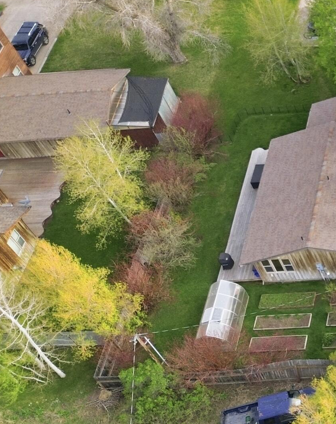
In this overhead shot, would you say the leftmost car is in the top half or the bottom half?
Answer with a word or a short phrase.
top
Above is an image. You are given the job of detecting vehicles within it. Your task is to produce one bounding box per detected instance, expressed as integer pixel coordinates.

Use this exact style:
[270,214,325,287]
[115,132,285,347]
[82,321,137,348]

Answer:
[221,388,318,424]
[9,23,49,68]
